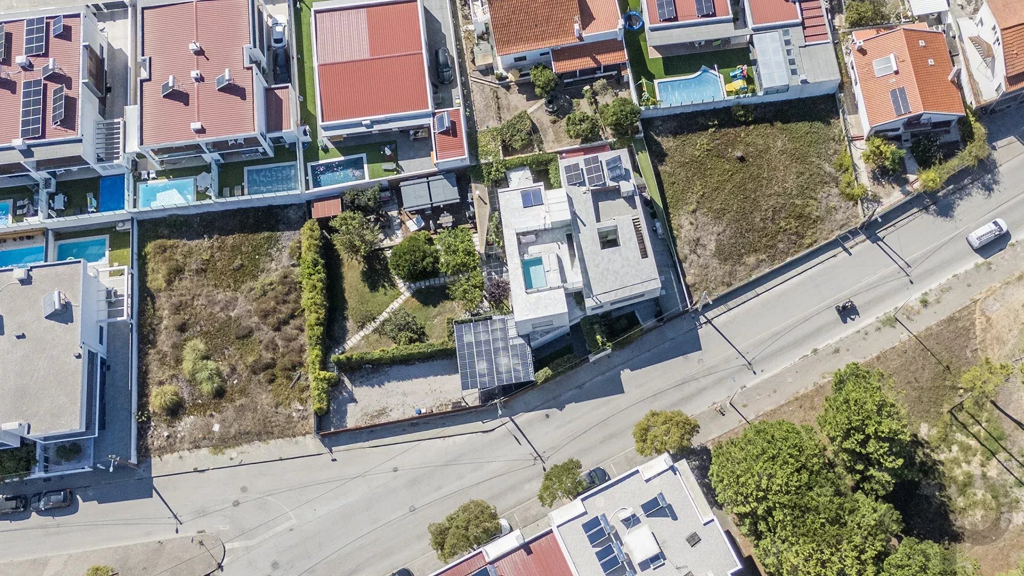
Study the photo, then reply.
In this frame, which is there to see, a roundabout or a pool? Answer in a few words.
pool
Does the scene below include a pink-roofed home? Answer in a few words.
Yes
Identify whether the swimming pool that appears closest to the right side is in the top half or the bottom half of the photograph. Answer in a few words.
top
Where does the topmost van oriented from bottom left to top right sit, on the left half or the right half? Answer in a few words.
right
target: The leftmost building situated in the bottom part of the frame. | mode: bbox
[0,260,110,460]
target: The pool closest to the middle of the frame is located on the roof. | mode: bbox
[522,256,549,290]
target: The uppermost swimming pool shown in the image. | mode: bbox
[654,68,727,106]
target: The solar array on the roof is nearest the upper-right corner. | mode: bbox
[889,86,911,115]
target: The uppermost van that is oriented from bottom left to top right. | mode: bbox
[961,219,1007,256]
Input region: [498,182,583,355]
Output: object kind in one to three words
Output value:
house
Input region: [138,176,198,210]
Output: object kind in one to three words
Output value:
swimming pool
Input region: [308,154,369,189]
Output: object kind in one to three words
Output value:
swimming pool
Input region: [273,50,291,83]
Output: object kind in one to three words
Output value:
car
